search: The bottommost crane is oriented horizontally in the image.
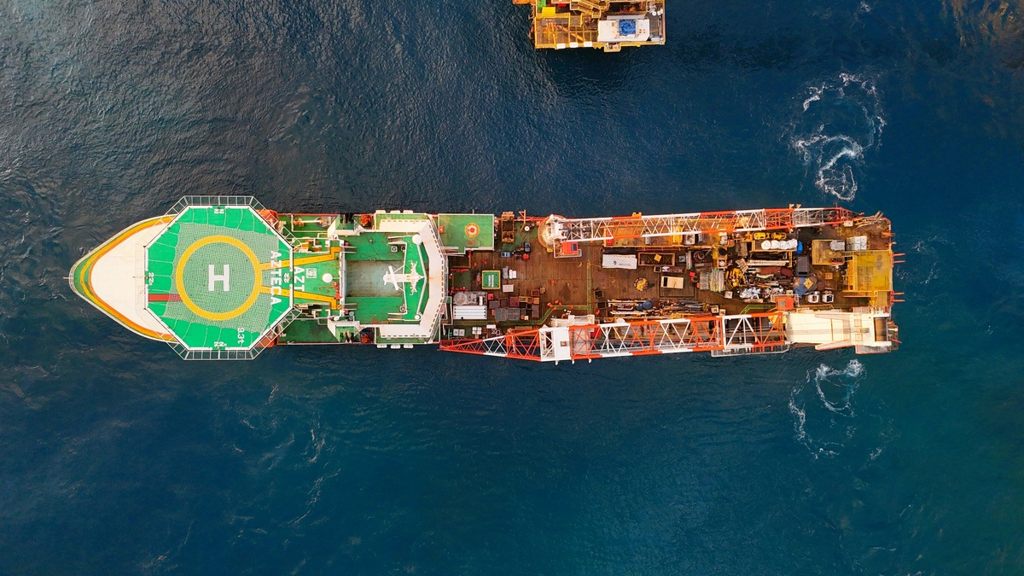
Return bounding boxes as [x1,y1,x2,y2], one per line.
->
[437,295,892,364]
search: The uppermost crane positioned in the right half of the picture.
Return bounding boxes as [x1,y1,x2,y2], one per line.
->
[533,203,866,257]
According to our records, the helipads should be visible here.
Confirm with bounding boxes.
[134,196,302,360]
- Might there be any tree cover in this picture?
No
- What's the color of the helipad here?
green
